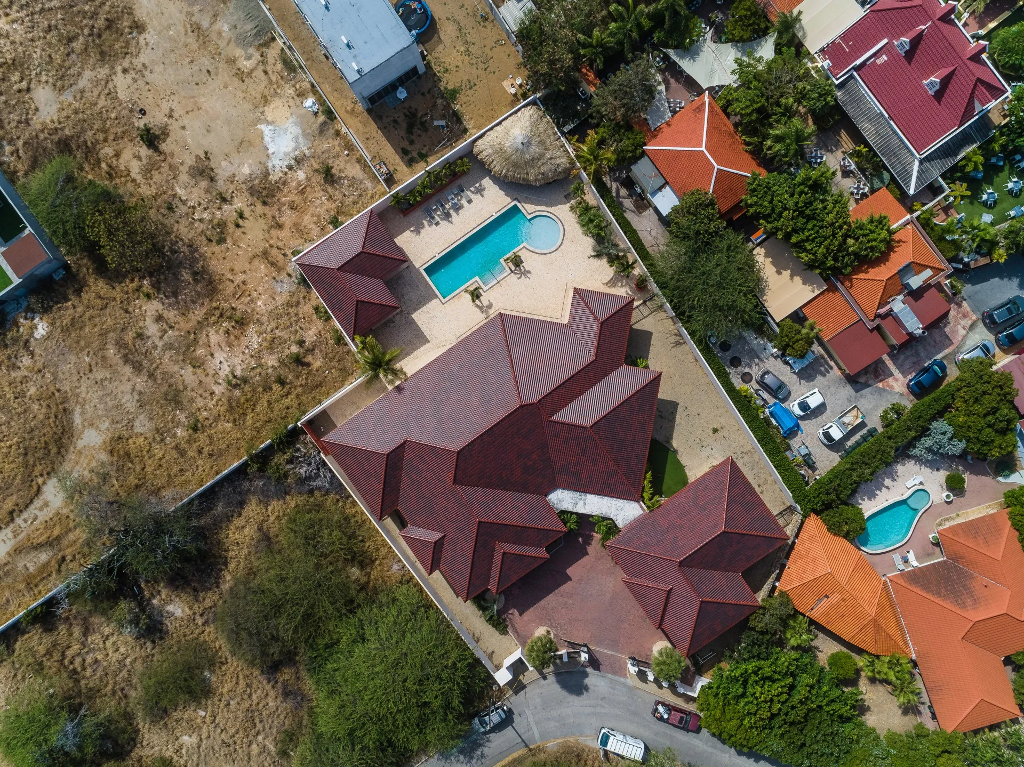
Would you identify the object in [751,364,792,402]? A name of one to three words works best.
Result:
car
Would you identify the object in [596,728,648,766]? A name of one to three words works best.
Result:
van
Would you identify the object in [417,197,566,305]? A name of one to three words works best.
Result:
swimming pool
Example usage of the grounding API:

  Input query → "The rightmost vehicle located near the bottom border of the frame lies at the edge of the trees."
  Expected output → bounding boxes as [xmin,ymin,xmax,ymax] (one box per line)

[647,696,702,732]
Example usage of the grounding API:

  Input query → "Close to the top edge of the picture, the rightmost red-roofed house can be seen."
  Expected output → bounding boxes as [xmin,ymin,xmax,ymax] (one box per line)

[799,0,1012,193]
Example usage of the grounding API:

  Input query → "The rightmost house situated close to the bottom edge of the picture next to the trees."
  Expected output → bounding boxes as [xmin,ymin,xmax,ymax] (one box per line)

[888,503,1024,736]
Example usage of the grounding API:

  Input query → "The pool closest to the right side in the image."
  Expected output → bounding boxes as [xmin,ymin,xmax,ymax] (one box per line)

[854,486,934,554]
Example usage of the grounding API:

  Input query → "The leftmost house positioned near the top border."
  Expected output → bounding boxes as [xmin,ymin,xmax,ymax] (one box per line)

[291,0,422,109]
